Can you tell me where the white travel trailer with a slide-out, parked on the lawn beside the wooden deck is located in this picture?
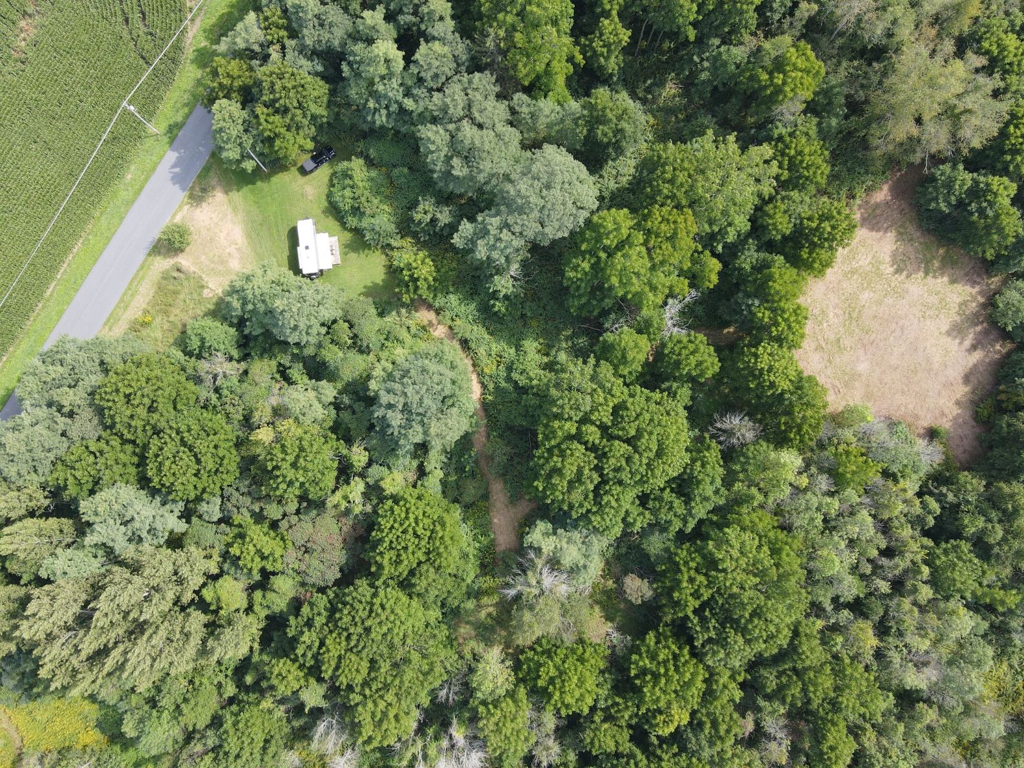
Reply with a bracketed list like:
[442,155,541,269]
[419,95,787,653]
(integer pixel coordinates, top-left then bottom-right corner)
[297,221,322,286]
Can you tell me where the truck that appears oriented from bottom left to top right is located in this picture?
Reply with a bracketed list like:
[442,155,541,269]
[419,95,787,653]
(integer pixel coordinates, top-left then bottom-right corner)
[302,146,337,175]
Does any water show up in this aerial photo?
No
